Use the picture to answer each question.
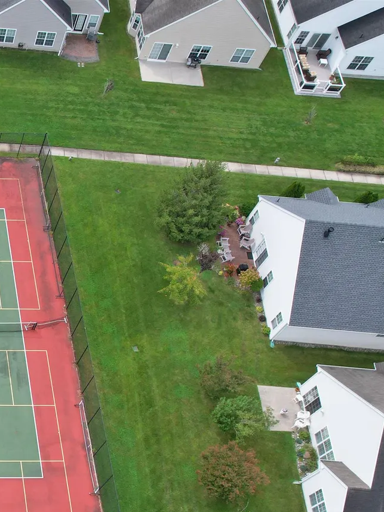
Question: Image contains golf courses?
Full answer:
No, there is no golf course in the image.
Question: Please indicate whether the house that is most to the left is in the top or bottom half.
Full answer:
It is in the top half that the house that is most to the left appears.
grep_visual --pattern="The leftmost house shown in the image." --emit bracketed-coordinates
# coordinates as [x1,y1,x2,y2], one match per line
[0,0,112,54]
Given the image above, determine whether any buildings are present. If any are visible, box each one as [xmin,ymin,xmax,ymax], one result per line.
[247,171,384,349]
[125,0,279,69]
[275,0,384,83]
[294,364,384,512]
[0,0,112,54]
